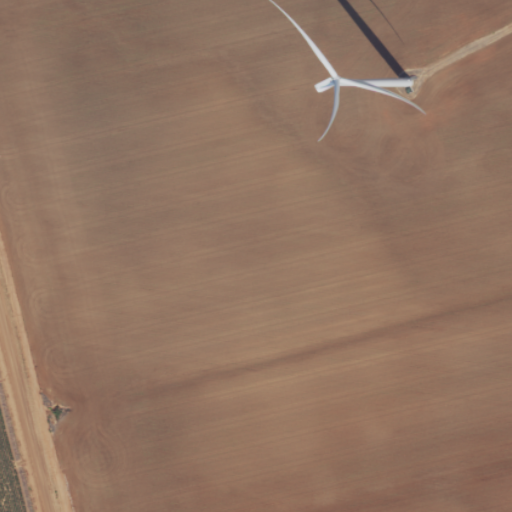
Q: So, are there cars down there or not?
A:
No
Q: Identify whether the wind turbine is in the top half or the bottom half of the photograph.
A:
top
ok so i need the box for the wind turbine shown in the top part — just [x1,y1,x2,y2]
[270,0,426,140]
